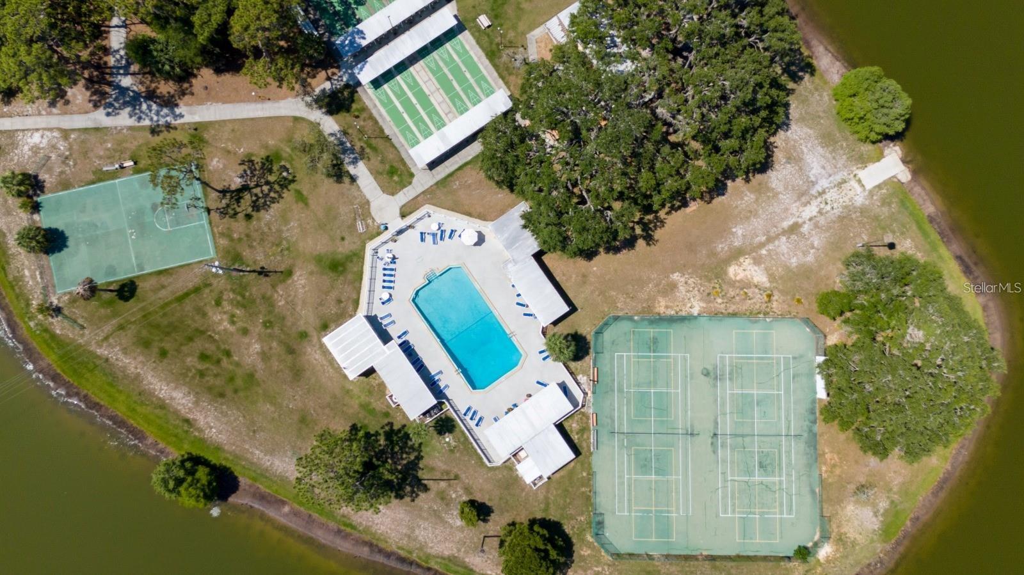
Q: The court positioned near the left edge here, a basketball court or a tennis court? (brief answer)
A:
basketball court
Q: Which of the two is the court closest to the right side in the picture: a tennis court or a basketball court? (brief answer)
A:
tennis court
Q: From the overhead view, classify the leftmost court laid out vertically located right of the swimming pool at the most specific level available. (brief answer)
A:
tennis court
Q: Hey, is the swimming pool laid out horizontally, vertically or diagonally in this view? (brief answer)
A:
diagonally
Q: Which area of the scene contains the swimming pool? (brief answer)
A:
center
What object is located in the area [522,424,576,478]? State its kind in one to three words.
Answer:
building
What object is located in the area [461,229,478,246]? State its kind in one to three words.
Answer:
umbrella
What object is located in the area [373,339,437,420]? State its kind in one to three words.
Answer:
building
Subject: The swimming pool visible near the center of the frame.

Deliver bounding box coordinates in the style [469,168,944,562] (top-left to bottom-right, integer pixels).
[406,262,527,394]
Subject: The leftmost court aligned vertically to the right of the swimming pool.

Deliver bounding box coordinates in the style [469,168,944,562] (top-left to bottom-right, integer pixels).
[592,315,706,555]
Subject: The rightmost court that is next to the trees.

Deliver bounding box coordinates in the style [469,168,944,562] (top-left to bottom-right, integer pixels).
[704,316,820,555]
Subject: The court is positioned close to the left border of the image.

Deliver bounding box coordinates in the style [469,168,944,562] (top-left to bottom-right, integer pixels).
[38,161,216,294]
